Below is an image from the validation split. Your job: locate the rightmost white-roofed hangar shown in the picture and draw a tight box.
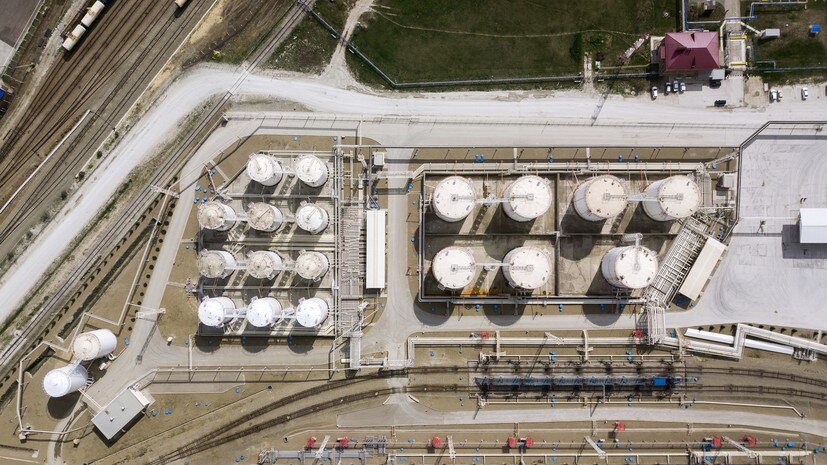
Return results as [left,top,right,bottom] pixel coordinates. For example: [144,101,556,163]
[791,208,827,243]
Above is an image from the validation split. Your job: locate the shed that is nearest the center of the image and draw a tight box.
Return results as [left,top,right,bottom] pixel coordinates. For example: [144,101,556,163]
[367,211,385,288]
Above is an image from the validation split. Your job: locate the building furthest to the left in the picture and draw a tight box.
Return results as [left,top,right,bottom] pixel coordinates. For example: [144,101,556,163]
[90,384,153,439]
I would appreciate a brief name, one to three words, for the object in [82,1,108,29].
rail car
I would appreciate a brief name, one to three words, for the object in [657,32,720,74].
house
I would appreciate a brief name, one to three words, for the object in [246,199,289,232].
storage tank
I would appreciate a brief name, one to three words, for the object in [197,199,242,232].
storage tank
